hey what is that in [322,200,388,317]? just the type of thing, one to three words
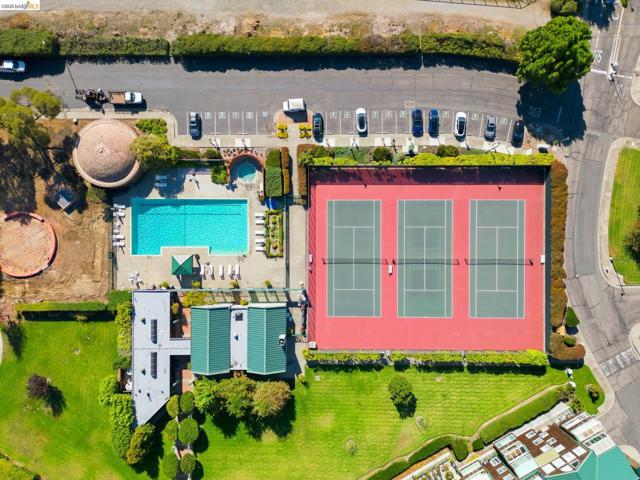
tennis court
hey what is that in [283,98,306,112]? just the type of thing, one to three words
vehicle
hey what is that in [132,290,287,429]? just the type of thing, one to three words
building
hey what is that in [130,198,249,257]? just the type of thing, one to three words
swimming pool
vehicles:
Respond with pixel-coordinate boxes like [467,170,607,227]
[356,108,367,132]
[283,98,306,112]
[511,119,526,145]
[454,112,466,136]
[428,110,440,134]
[108,91,142,104]
[412,109,424,134]
[0,59,24,71]
[312,112,324,136]
[485,115,497,139]
[188,111,200,136]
